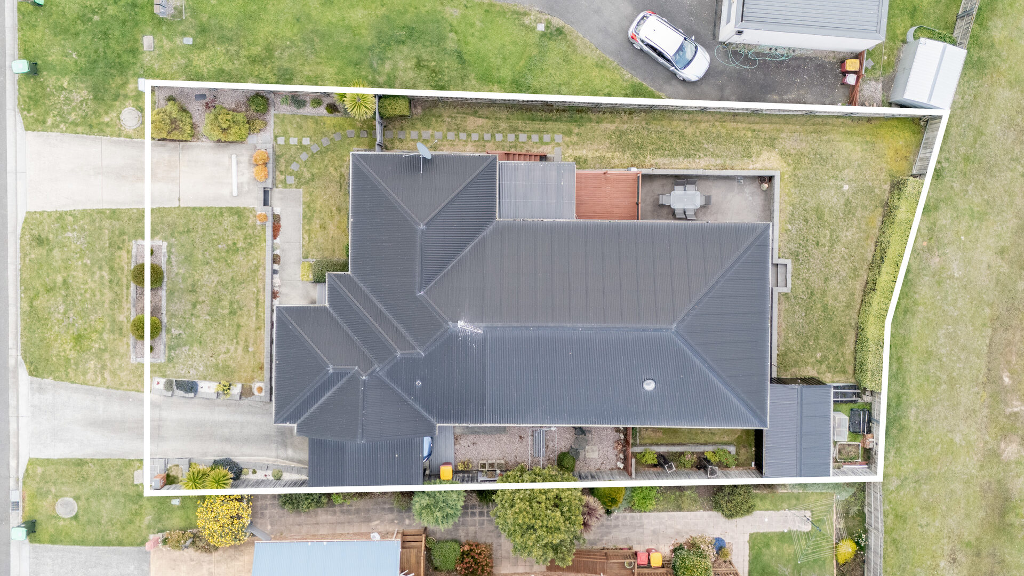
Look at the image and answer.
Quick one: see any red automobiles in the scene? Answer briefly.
No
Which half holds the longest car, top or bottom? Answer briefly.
top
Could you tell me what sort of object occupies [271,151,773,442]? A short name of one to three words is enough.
house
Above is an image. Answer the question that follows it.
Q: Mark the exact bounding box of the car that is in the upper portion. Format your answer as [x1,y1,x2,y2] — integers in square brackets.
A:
[624,10,709,84]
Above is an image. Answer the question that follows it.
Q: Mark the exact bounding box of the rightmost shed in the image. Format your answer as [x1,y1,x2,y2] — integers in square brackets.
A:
[890,36,968,111]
